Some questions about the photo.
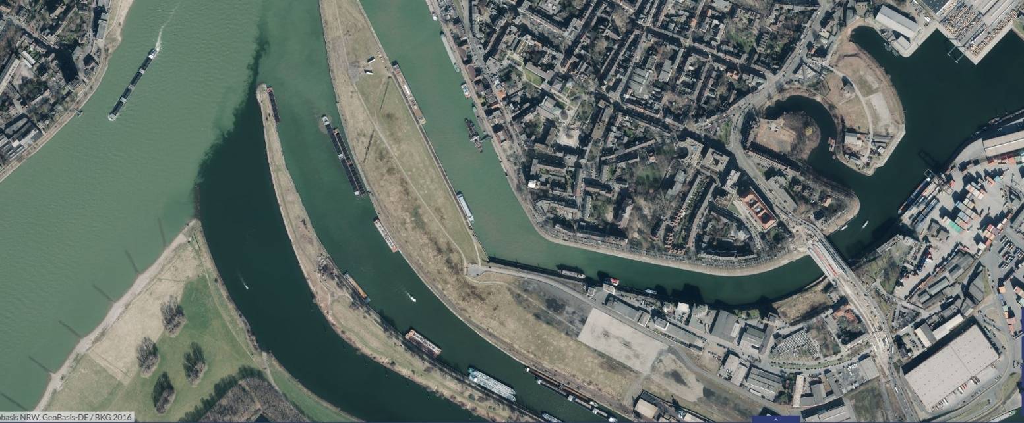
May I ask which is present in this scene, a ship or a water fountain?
ship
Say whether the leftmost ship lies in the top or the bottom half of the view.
top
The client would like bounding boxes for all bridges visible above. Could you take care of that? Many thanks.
[808,236,857,284]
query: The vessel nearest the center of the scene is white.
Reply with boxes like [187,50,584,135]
[456,191,473,222]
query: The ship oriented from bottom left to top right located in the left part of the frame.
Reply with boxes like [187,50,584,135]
[111,50,159,120]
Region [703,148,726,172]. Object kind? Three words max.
building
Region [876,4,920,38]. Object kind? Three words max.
building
